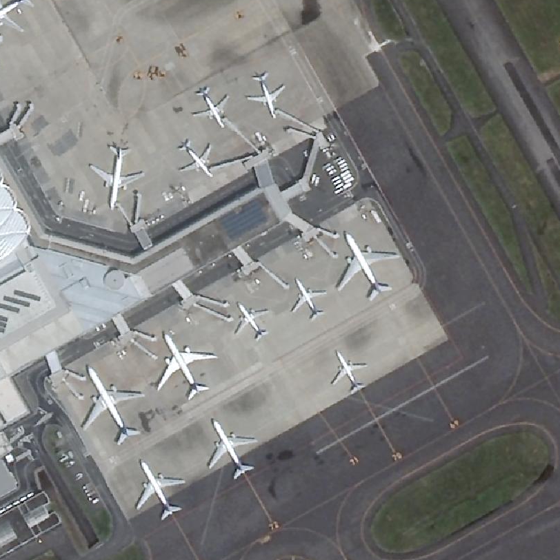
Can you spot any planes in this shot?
Yes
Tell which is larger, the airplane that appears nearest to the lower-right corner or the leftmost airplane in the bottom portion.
the leftmost airplane in the bottom portion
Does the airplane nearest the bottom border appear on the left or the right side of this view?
left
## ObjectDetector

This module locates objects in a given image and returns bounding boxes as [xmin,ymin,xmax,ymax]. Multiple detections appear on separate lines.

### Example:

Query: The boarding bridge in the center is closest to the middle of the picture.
[234,247,290,291]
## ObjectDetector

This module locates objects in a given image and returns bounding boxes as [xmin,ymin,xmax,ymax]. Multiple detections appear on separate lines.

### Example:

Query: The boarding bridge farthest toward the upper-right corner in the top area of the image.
[275,109,330,148]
